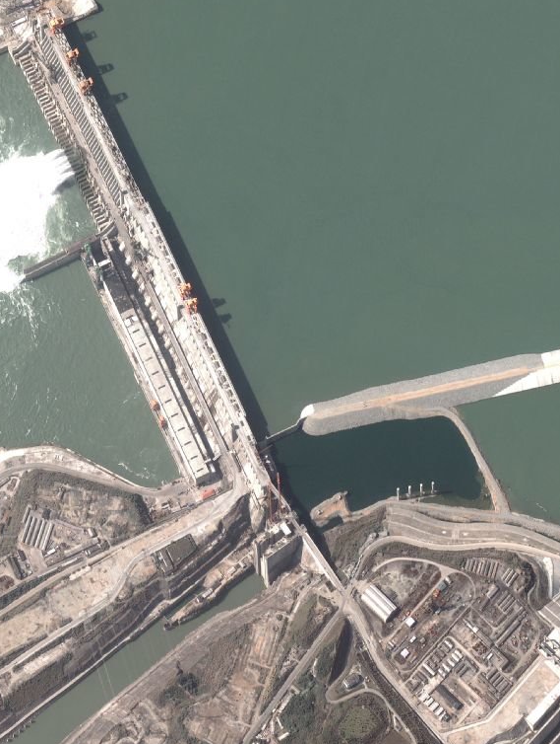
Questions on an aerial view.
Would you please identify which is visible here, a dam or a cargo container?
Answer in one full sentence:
It is a dam that can be seen here.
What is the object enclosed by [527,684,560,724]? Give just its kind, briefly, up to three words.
building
